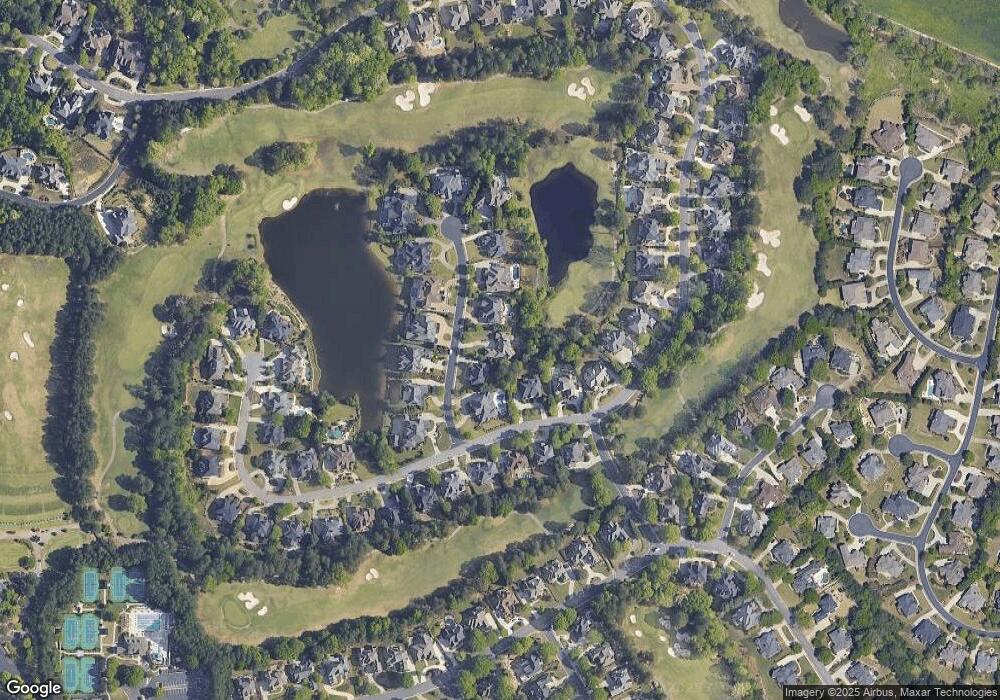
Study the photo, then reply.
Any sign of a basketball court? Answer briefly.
No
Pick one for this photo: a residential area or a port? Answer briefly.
residential area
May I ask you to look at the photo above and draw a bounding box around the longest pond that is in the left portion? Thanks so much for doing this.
[260,187,393,433]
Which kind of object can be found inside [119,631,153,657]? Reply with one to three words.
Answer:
building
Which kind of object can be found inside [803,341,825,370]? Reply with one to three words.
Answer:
house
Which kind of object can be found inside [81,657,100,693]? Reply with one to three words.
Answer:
tennis court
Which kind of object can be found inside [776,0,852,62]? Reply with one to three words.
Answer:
pond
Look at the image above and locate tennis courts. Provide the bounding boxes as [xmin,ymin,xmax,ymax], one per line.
[81,614,100,650]
[64,657,82,693]
[110,567,128,602]
[64,614,82,650]
[82,567,100,602]
[81,657,100,693]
